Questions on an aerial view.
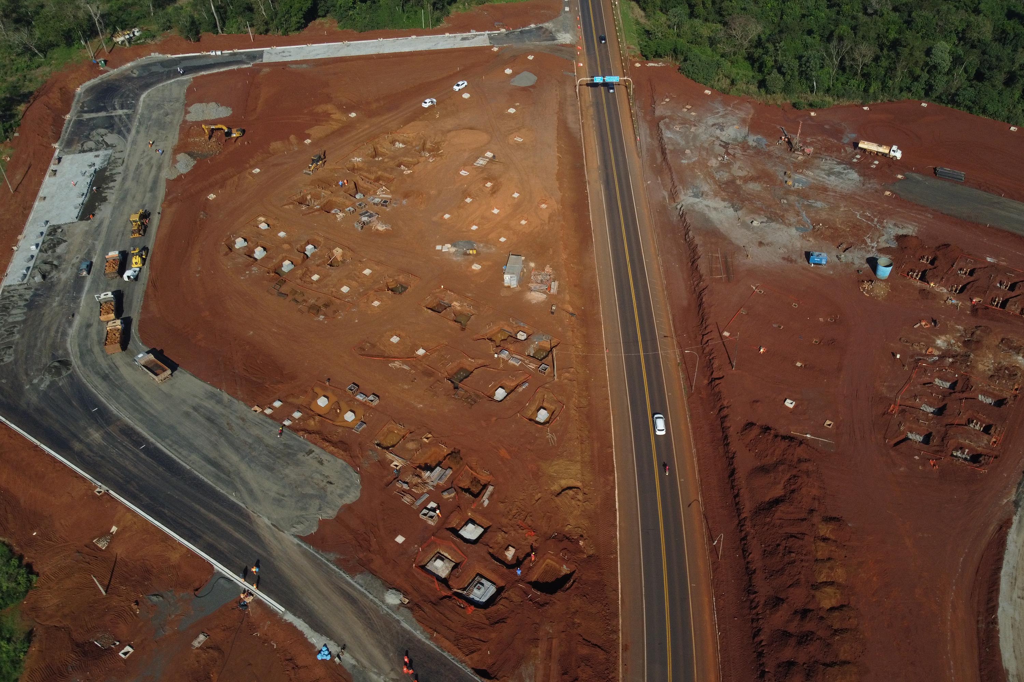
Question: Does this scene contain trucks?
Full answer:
Yes, looking at the shot, I can spot a truck.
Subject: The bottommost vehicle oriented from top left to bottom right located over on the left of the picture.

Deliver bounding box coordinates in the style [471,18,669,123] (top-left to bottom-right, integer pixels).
[138,354,173,387]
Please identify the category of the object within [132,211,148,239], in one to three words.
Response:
work vehicle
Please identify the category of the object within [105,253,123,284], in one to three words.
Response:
vehicle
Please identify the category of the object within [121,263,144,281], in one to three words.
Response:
vehicle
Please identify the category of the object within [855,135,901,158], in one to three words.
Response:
truck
